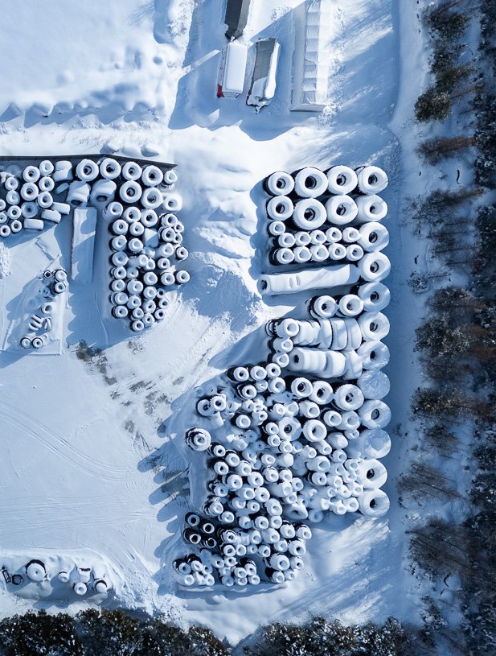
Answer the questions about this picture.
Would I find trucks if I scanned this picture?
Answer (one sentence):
Yes, the image includes a truck.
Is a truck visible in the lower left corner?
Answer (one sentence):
No, no truck can be made out in the lower left corner.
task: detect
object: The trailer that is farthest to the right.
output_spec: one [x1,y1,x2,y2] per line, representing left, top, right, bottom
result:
[291,0,331,110]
